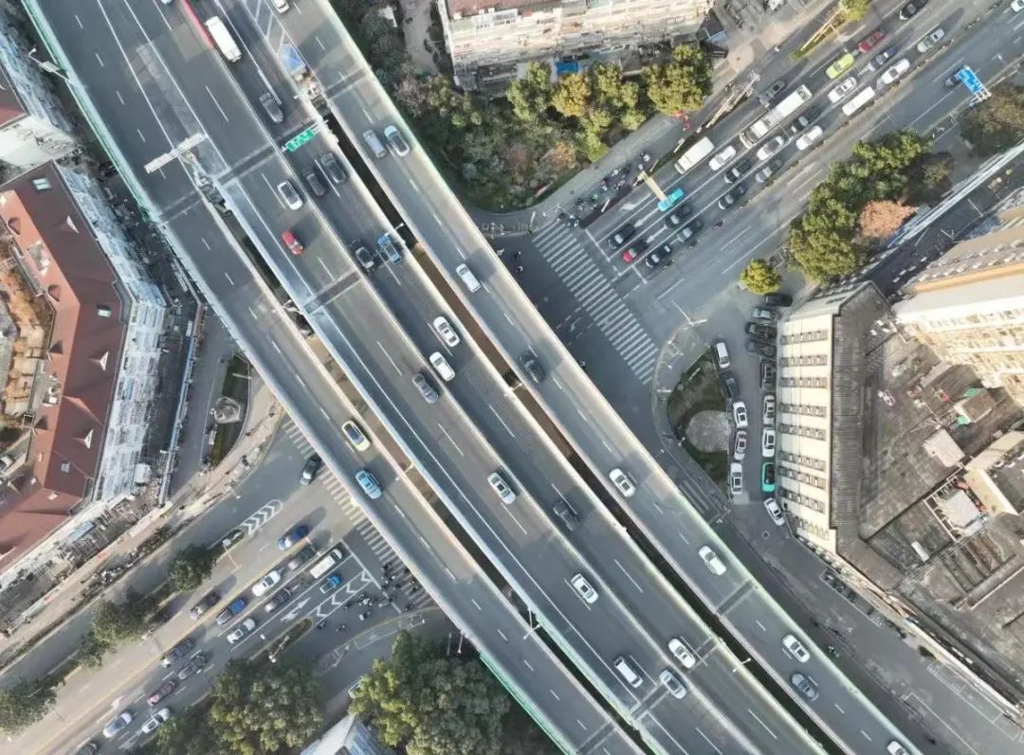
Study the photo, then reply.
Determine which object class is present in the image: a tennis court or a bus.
bus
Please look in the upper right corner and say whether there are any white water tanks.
No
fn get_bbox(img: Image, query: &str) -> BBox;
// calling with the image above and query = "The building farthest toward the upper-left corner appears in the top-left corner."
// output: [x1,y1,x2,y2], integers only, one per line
[0,2,73,169]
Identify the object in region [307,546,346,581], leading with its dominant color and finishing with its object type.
white truck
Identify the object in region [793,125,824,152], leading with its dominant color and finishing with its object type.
white car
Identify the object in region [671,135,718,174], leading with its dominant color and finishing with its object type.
white vehicle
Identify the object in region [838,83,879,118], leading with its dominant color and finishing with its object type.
white van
